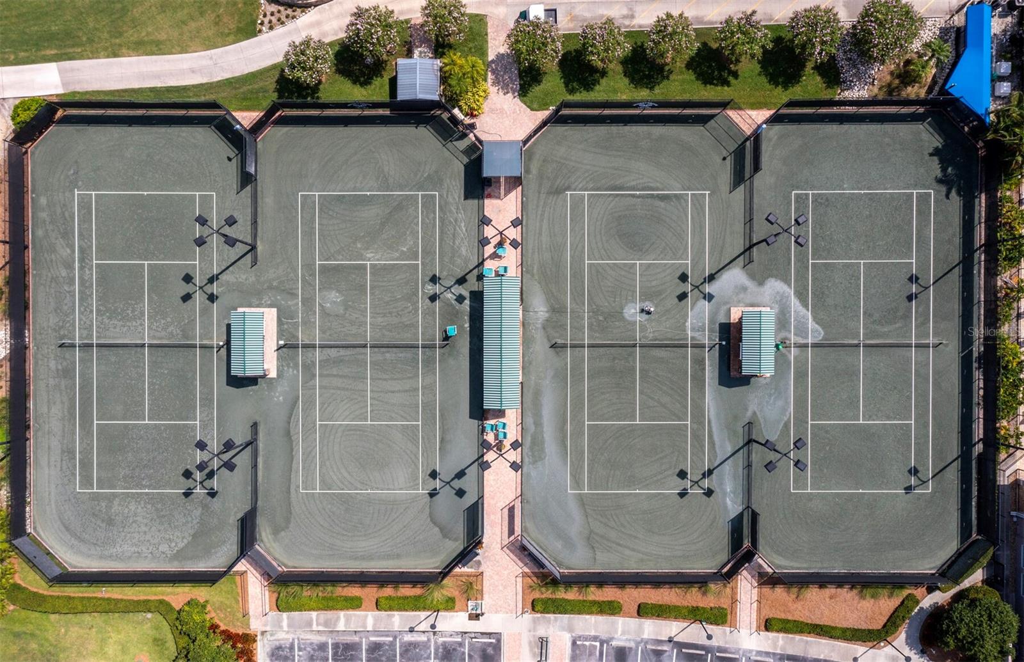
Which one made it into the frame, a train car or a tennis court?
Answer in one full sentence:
The image shows a tennis court.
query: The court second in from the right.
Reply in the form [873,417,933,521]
[520,110,749,573]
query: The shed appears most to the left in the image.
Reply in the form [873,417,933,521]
[398,56,441,102]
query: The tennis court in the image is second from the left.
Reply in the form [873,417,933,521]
[257,109,485,572]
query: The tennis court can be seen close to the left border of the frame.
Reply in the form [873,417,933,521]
[29,110,257,571]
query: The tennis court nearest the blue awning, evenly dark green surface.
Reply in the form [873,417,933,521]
[748,108,981,574]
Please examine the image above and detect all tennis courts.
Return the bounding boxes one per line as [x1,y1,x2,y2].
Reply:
[520,110,749,573]
[748,108,981,574]
[257,109,485,572]
[29,110,257,571]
